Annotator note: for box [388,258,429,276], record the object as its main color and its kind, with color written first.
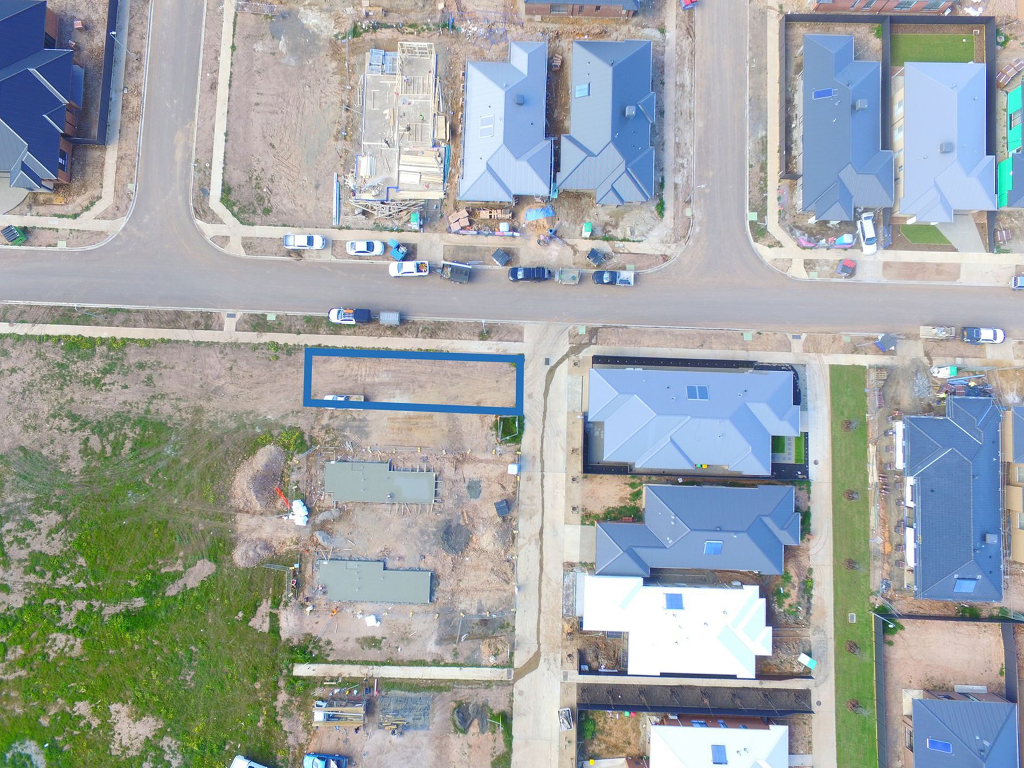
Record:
white vehicle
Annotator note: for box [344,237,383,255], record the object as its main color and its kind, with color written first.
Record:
white car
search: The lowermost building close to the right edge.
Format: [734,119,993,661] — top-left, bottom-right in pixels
[903,685,1020,768]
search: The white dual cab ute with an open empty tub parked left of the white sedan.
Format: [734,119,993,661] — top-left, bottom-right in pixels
[280,231,323,249]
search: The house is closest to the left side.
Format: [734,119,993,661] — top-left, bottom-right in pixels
[0,0,85,191]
